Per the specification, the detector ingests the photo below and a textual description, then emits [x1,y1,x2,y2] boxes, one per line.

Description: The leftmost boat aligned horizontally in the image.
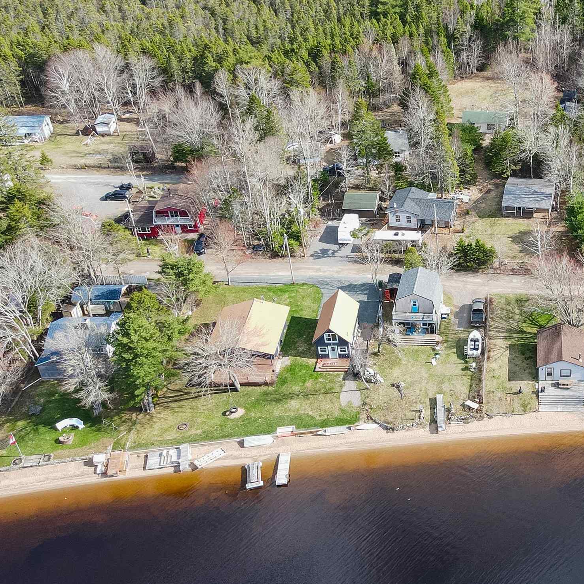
[243,434,281,447]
